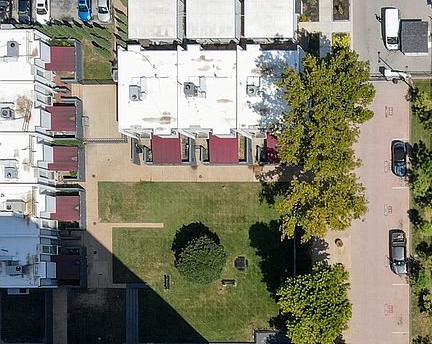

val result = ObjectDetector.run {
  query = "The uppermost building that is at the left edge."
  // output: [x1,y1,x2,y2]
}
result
[0,28,82,89]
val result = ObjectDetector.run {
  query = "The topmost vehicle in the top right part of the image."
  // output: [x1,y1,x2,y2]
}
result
[382,4,399,52]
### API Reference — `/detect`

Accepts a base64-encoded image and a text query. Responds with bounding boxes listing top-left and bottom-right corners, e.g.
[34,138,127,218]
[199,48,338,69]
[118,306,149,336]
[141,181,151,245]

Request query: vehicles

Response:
[15,0,34,26]
[76,0,94,23]
[96,0,112,23]
[34,0,52,25]
[386,67,407,81]
[392,140,408,176]
[382,4,399,52]
[390,232,407,274]
[0,0,15,26]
